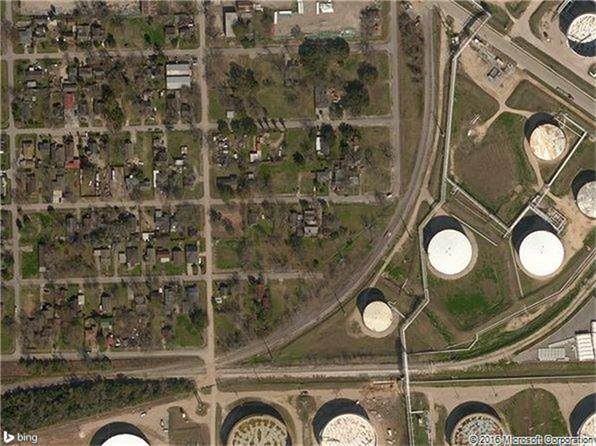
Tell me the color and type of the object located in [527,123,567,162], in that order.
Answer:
white storage tank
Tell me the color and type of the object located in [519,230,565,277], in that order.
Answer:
white storage tank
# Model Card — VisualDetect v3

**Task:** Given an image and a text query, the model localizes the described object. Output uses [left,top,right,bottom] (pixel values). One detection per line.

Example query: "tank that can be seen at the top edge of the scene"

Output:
[567,10,596,62]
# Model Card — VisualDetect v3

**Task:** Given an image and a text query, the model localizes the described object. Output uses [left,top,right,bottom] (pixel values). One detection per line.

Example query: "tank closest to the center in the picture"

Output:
[363,301,395,332]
